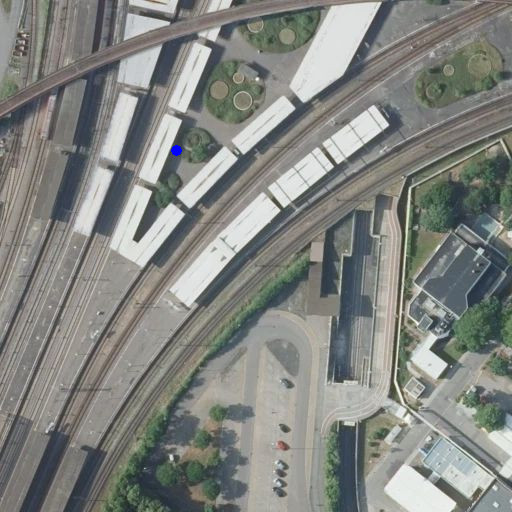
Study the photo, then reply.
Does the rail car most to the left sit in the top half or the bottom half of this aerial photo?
top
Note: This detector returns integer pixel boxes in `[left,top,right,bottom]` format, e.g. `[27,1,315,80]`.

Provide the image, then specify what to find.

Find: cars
[16,39,28,45]
[14,51,26,57]
[274,478,286,487]
[274,488,285,496]
[274,468,286,478]
[280,378,292,387]
[16,45,28,51]
[275,441,286,450]
[279,424,290,432]
[276,460,288,468]
[18,32,30,38]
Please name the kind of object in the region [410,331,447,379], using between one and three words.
building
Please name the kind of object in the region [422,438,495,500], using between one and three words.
building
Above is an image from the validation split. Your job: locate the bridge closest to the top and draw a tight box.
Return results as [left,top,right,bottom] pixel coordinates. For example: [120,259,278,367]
[0,0,360,116]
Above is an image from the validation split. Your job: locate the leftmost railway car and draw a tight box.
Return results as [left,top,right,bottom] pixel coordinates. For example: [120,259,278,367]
[42,84,62,140]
